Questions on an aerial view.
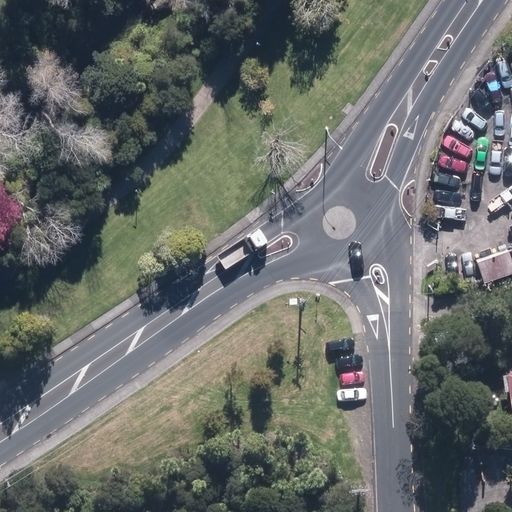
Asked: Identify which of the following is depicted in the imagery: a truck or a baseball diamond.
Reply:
truck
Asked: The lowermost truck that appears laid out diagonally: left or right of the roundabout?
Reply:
on the left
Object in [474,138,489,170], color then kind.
green car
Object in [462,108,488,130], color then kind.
white car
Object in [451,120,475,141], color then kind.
white car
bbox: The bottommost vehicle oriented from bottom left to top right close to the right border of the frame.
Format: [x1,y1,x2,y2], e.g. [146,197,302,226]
[486,186,512,215]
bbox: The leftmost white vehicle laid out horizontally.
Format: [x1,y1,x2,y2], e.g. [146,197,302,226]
[337,388,367,401]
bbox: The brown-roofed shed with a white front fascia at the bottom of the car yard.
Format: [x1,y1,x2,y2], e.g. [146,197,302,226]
[474,249,512,286]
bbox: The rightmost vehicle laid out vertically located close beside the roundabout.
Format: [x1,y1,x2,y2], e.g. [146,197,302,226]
[348,241,362,271]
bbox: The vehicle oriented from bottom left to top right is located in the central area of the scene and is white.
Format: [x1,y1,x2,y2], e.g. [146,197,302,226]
[218,228,268,268]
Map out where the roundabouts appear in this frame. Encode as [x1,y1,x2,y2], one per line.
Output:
[322,206,356,240]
